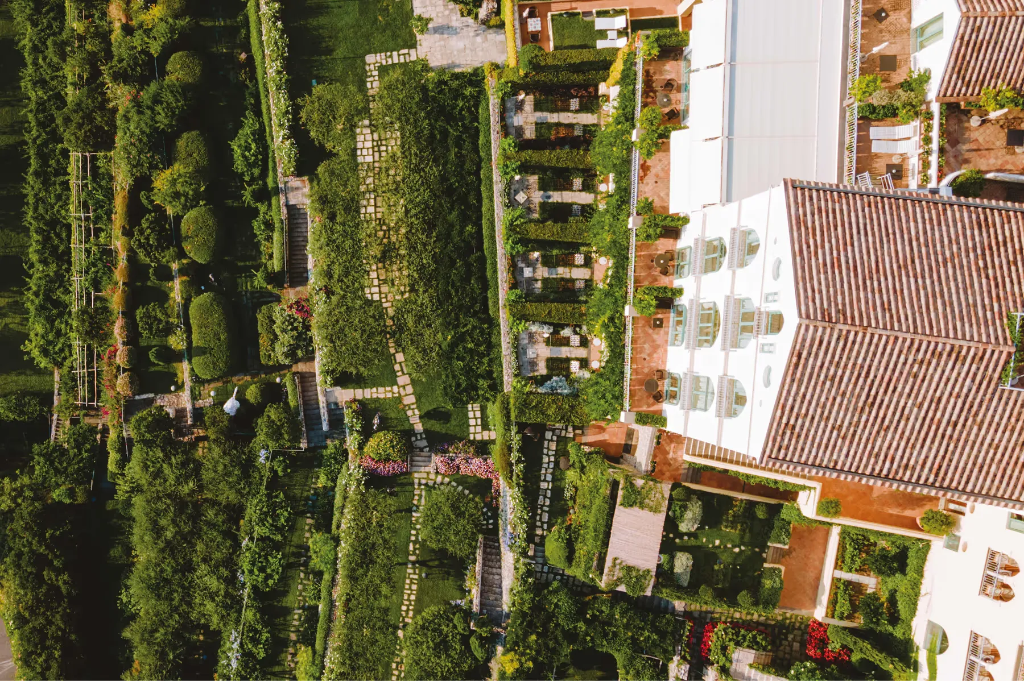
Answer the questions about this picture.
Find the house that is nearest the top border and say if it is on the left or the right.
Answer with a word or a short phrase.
right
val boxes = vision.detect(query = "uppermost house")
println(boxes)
[912,0,1024,103]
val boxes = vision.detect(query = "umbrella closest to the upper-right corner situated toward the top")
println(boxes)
[970,104,1021,128]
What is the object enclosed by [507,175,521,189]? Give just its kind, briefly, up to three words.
umbrella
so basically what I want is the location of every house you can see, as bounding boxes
[912,0,1024,103]
[655,175,1024,509]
